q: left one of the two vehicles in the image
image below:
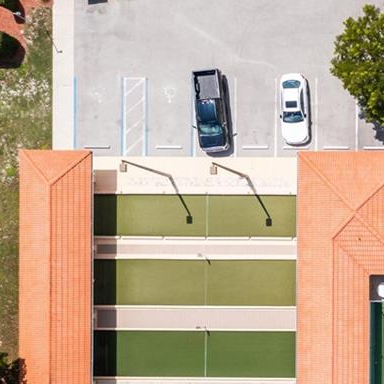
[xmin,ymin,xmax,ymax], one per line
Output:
[191,67,232,152]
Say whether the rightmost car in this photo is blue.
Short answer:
No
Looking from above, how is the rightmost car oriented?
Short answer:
up and down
